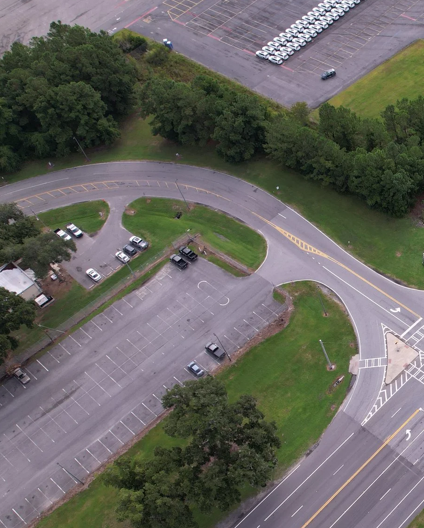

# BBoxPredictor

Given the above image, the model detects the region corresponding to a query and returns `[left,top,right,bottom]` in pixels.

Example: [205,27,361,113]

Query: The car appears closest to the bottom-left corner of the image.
[11,368,30,383]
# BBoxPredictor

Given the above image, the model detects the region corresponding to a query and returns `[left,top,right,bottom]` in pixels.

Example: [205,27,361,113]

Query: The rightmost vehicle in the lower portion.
[204,342,226,359]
